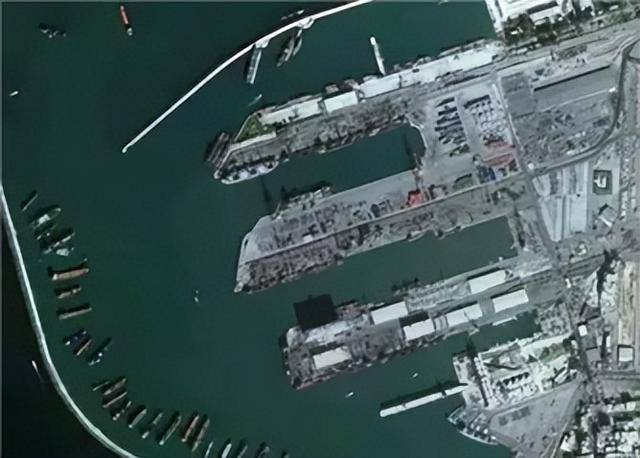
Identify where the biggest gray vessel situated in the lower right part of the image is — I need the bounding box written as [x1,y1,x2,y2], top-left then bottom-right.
[449,412,501,445]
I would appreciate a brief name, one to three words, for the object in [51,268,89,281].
ship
